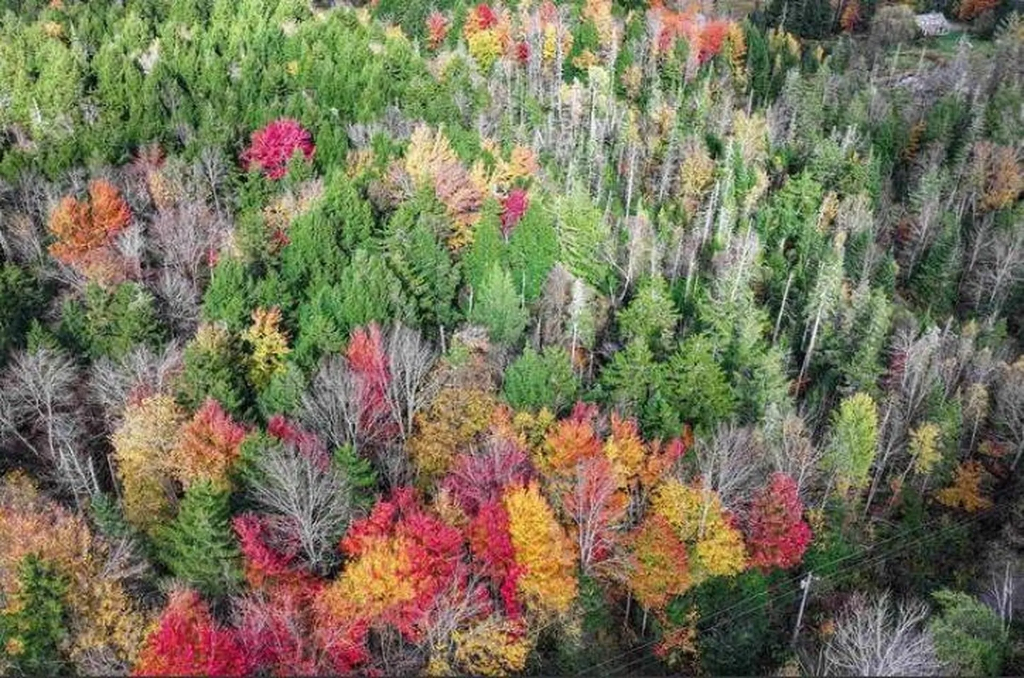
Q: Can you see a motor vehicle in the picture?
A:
No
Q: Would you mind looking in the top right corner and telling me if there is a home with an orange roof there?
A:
No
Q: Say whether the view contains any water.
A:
No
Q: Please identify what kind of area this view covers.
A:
forest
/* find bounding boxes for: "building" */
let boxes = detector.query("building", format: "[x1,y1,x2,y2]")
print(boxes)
[913,12,953,36]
